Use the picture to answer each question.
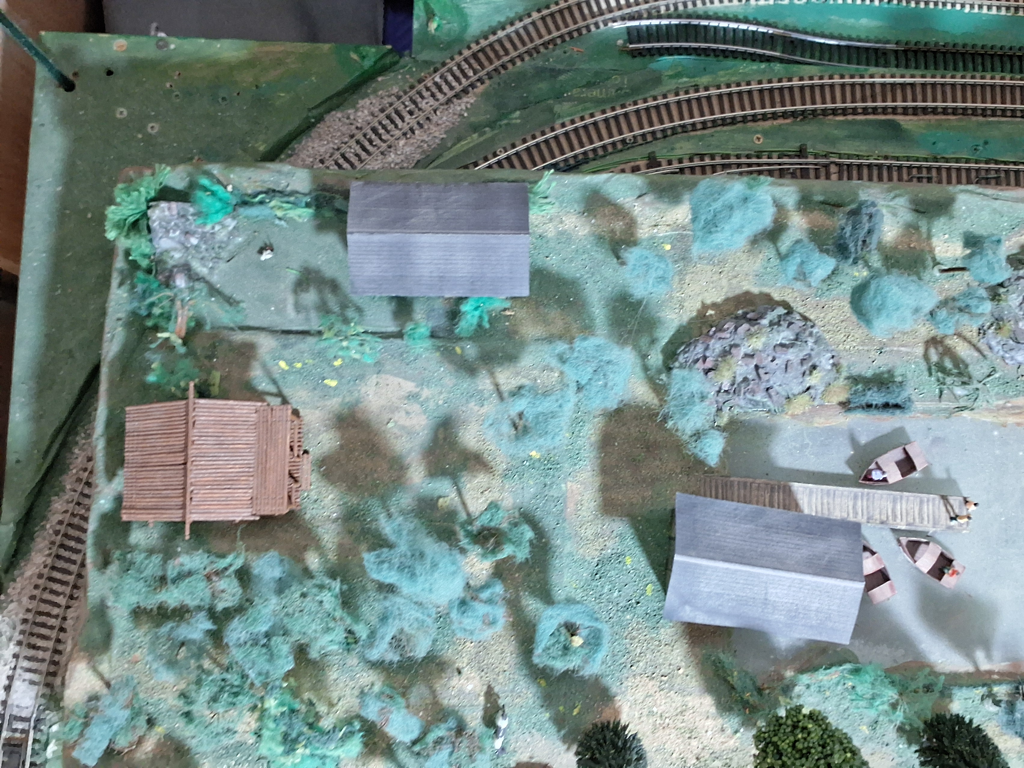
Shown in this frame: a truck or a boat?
boat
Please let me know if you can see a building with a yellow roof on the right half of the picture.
No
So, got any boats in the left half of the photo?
No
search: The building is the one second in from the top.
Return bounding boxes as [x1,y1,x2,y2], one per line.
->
[121,382,310,539]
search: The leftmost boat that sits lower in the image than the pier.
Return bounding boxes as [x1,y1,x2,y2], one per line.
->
[861,541,895,603]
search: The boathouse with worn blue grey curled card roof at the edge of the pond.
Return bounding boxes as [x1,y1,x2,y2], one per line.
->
[664,493,865,645]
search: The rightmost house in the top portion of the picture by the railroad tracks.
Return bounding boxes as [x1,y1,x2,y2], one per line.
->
[347,182,530,297]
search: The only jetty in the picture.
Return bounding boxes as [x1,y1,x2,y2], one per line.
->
[694,474,970,532]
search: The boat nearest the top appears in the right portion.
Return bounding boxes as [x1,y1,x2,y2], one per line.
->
[859,442,927,484]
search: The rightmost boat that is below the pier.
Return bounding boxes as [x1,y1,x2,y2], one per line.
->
[899,537,966,588]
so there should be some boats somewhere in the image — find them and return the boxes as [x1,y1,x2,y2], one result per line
[899,537,966,588]
[859,442,927,484]
[861,541,895,603]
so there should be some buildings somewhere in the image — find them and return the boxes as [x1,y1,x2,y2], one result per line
[121,382,310,539]
[664,493,865,645]
[347,182,530,297]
